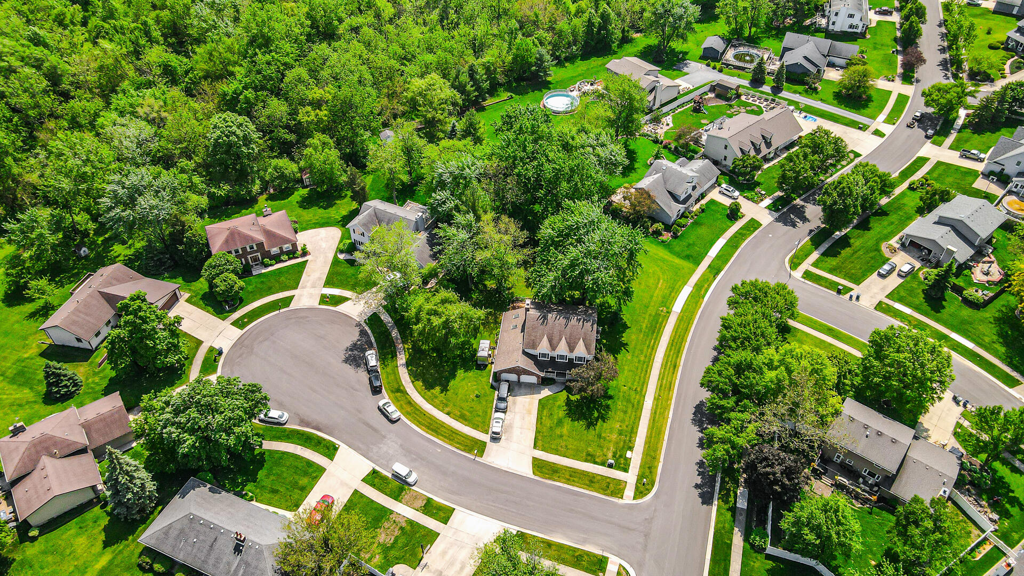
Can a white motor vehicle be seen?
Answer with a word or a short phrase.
Yes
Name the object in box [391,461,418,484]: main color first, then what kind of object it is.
white car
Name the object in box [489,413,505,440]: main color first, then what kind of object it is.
white car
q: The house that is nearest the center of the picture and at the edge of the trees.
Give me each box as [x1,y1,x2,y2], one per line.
[494,297,603,384]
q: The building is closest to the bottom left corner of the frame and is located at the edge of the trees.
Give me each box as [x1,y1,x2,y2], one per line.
[0,390,136,522]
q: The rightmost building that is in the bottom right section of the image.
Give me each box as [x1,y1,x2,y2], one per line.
[817,395,960,518]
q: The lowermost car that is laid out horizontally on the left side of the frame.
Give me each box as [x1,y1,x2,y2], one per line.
[259,410,290,425]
